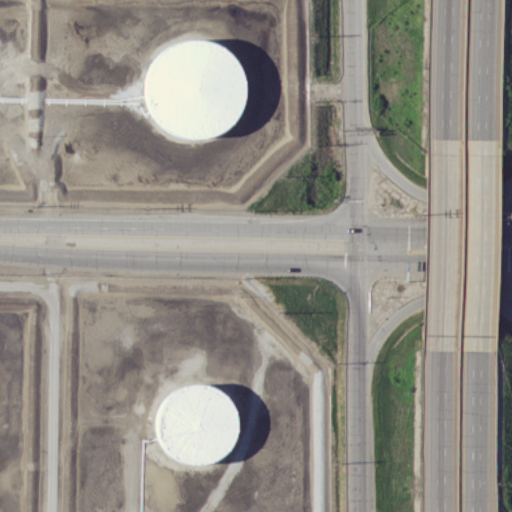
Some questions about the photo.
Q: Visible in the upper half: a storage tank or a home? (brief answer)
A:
storage tank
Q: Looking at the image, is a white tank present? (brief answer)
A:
Yes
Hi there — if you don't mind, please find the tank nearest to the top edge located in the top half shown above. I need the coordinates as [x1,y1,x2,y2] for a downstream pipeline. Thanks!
[144,40,250,142]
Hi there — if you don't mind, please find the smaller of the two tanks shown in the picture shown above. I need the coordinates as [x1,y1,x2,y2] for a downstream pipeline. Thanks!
[154,384,240,467]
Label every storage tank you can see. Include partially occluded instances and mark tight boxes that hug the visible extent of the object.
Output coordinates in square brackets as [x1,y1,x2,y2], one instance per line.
[154,384,240,467]
[144,40,250,142]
